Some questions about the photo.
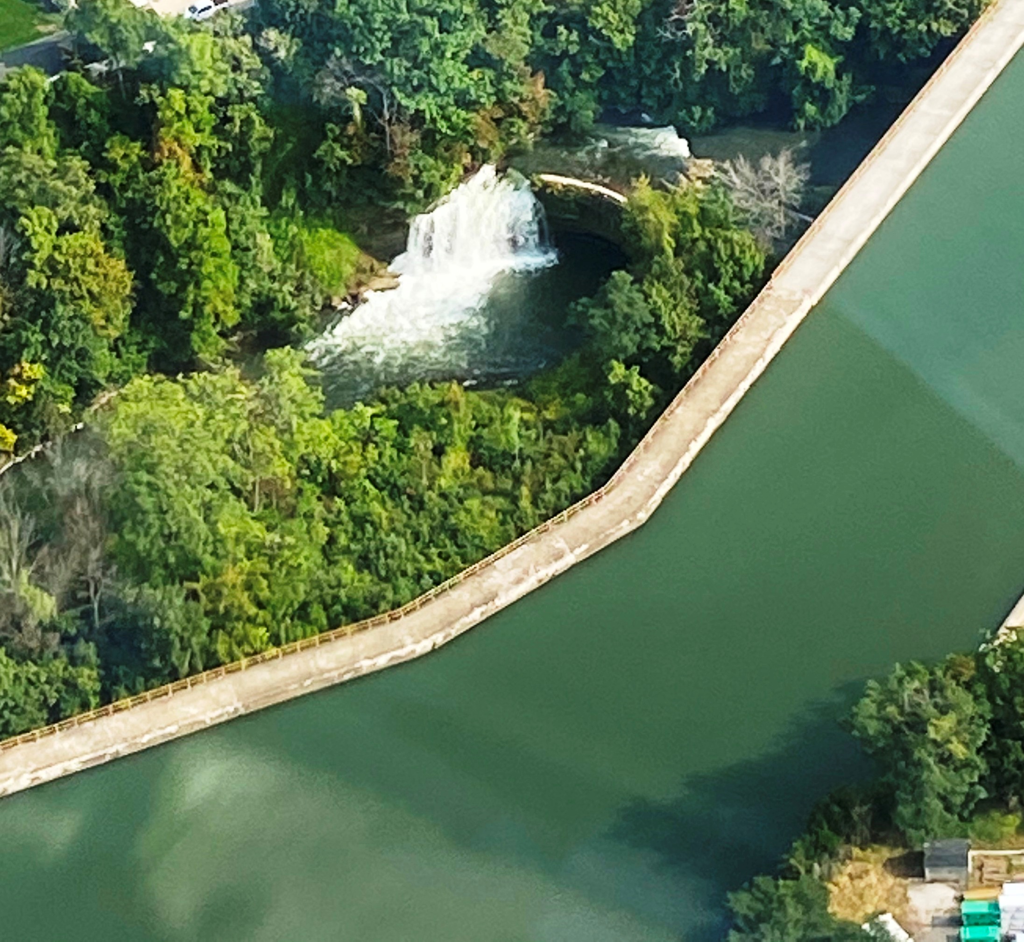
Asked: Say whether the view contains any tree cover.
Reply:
Yes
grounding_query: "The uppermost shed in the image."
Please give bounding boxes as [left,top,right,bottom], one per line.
[920,836,970,880]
